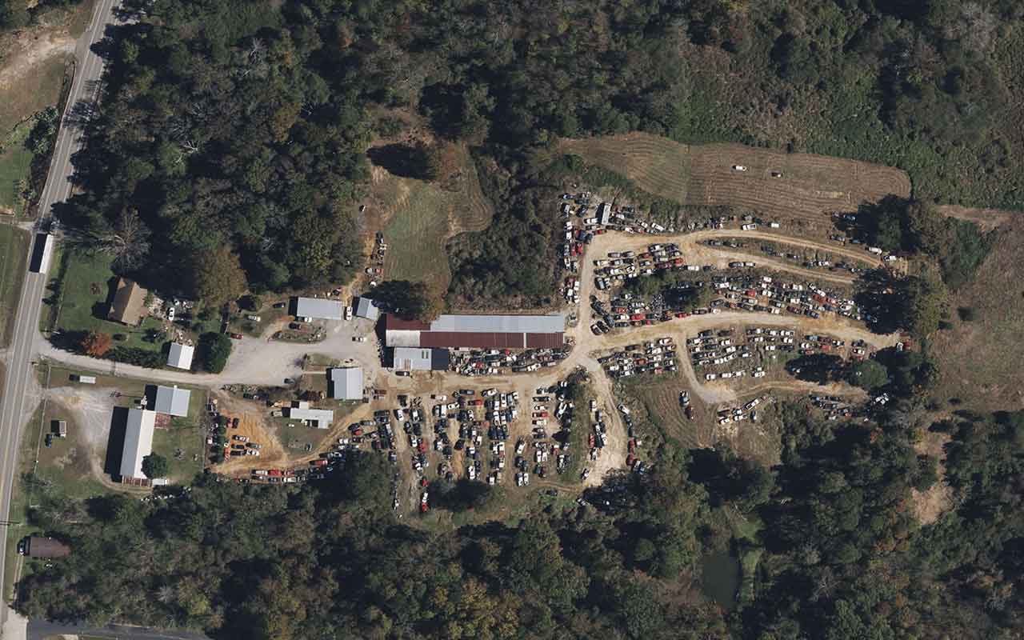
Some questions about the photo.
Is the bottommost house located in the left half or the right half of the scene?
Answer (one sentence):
It is on the left.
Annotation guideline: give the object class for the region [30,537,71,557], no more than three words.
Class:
house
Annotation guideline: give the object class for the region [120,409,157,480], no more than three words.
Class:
barn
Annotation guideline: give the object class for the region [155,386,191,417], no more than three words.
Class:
building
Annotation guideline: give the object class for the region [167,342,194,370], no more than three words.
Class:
shed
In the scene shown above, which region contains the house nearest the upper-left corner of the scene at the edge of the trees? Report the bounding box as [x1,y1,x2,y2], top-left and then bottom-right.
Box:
[107,278,148,325]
